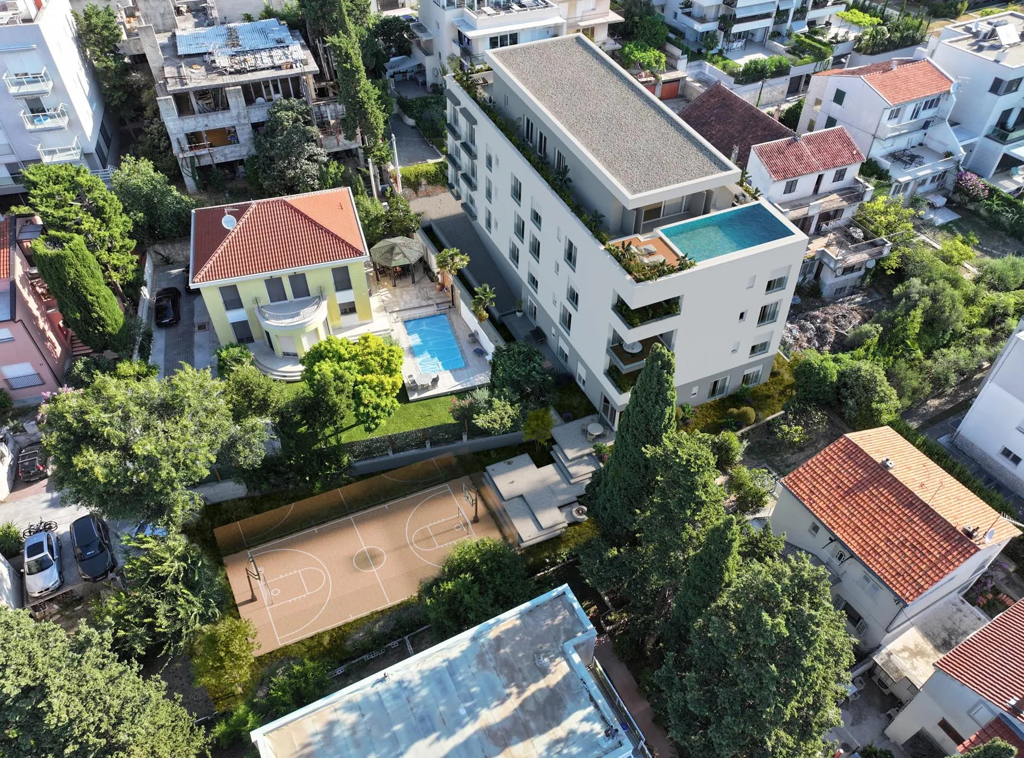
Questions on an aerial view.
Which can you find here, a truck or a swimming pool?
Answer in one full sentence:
Looking from above, you can make out a swimming pool.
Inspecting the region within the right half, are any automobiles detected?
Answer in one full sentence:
No, no automobile appears within the right half.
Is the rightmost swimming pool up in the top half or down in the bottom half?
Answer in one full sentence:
It is in the top half that the rightmost swimming pool appears.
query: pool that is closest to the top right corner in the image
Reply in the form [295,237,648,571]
[669,209,793,261]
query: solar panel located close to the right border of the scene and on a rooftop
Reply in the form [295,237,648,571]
[977,34,1018,60]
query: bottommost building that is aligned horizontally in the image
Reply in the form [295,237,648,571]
[250,584,629,758]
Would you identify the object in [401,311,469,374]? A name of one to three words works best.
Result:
swimming pool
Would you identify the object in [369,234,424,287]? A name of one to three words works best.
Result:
gazebo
